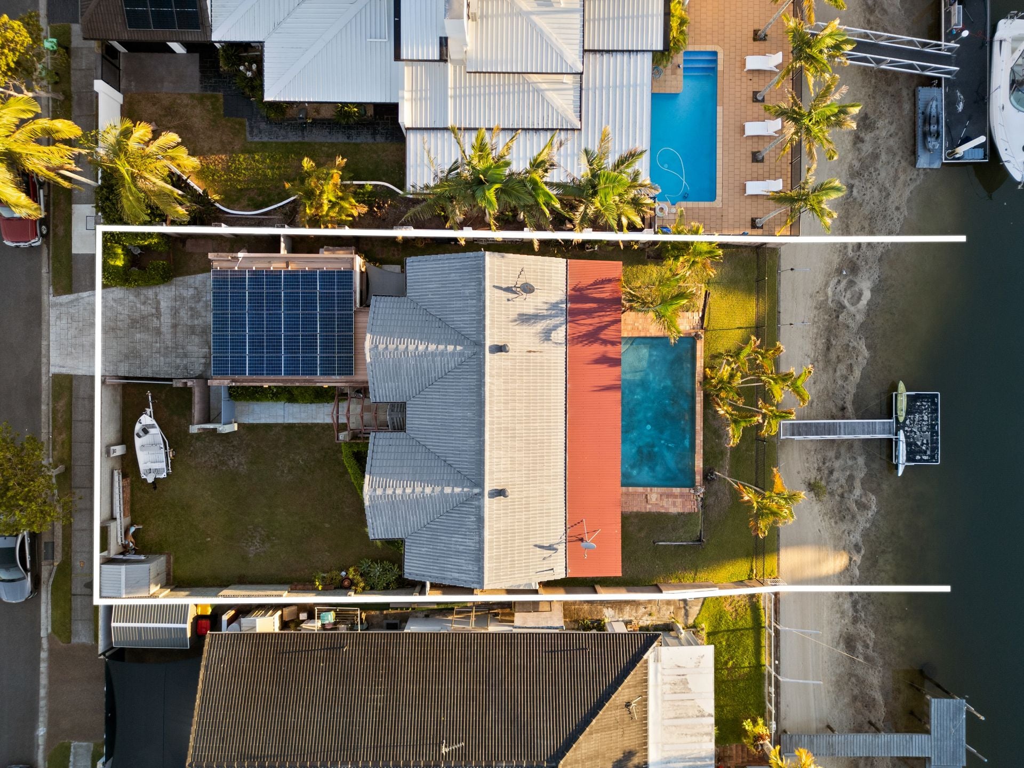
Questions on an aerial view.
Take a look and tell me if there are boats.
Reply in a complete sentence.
Yes, the picture does show a boat.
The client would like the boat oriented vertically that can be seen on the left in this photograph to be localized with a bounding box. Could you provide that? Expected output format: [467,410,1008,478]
[131,413,167,484]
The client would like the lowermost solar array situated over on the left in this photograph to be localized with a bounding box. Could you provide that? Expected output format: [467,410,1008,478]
[212,267,354,379]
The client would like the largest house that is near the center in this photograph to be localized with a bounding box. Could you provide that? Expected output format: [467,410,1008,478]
[359,252,622,590]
